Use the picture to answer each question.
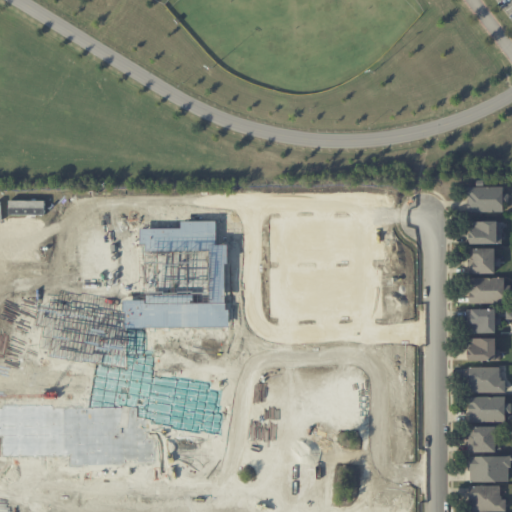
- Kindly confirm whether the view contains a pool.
No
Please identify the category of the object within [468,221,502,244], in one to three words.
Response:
house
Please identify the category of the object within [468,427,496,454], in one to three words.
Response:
house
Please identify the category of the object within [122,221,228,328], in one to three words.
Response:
building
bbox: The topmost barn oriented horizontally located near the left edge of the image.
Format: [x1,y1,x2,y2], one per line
[8,201,44,216]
